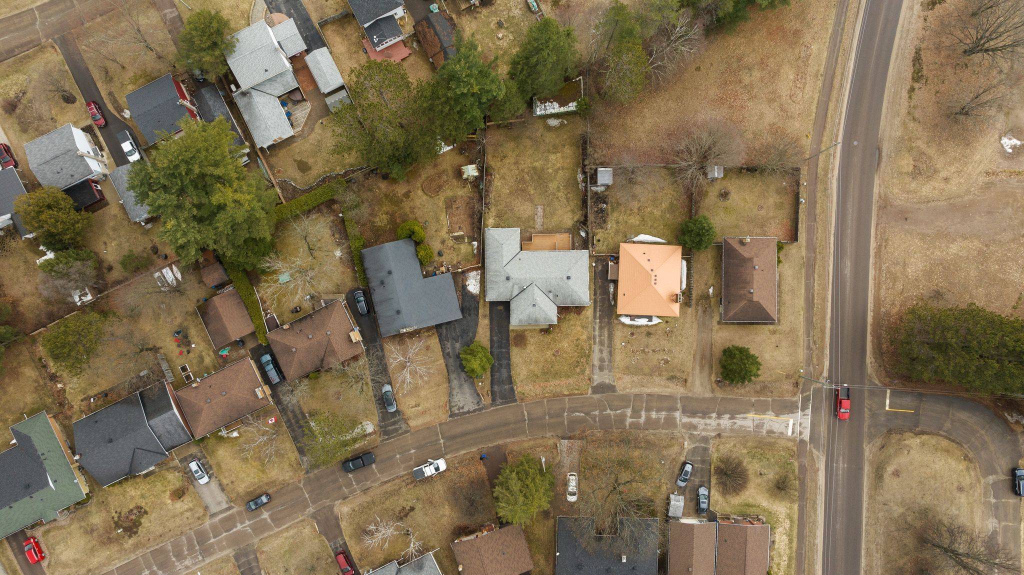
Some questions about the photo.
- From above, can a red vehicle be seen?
Yes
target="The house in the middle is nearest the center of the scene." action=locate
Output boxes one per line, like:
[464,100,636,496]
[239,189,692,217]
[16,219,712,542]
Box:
[484,228,590,325]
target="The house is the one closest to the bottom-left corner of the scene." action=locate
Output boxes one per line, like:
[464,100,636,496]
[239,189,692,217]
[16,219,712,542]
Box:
[0,410,93,540]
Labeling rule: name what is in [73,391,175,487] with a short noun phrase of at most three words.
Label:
house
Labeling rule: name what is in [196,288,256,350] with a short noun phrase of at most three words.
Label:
building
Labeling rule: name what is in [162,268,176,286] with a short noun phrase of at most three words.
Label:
boat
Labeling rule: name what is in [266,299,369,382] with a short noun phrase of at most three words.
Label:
house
